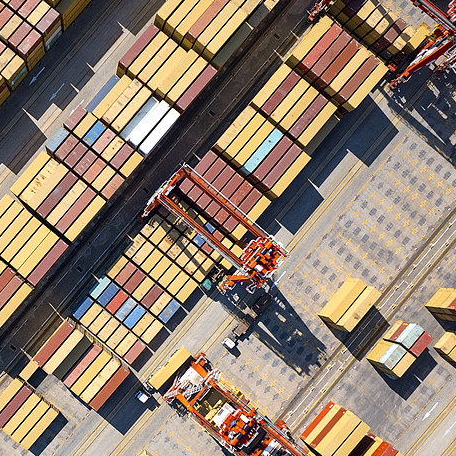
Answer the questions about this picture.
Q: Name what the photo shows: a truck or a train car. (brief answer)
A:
truck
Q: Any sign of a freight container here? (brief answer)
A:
Yes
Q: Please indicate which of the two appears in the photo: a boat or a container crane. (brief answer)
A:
container crane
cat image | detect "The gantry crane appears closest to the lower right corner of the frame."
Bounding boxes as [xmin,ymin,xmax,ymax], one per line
[159,347,315,456]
